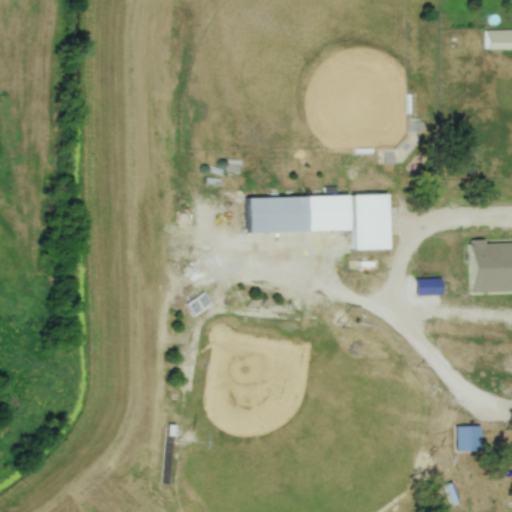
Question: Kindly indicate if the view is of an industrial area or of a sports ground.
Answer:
sports ground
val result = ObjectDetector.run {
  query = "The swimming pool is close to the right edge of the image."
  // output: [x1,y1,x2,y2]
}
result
[484,13,500,27]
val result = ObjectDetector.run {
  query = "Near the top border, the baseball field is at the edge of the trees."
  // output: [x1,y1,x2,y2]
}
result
[193,0,407,151]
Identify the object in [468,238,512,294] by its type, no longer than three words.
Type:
house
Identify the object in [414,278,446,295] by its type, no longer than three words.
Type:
shed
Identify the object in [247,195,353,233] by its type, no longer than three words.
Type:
barn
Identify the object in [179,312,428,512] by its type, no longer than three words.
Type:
baseball field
